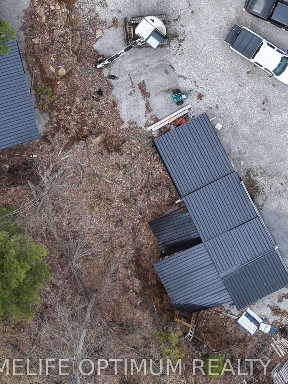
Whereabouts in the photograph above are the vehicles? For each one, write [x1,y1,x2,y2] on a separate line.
[243,0,288,30]
[228,26,288,80]
[97,18,166,66]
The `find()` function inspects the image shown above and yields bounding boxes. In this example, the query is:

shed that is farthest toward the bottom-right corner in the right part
[223,249,288,310]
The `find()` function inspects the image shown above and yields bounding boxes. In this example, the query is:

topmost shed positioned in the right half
[153,113,237,197]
